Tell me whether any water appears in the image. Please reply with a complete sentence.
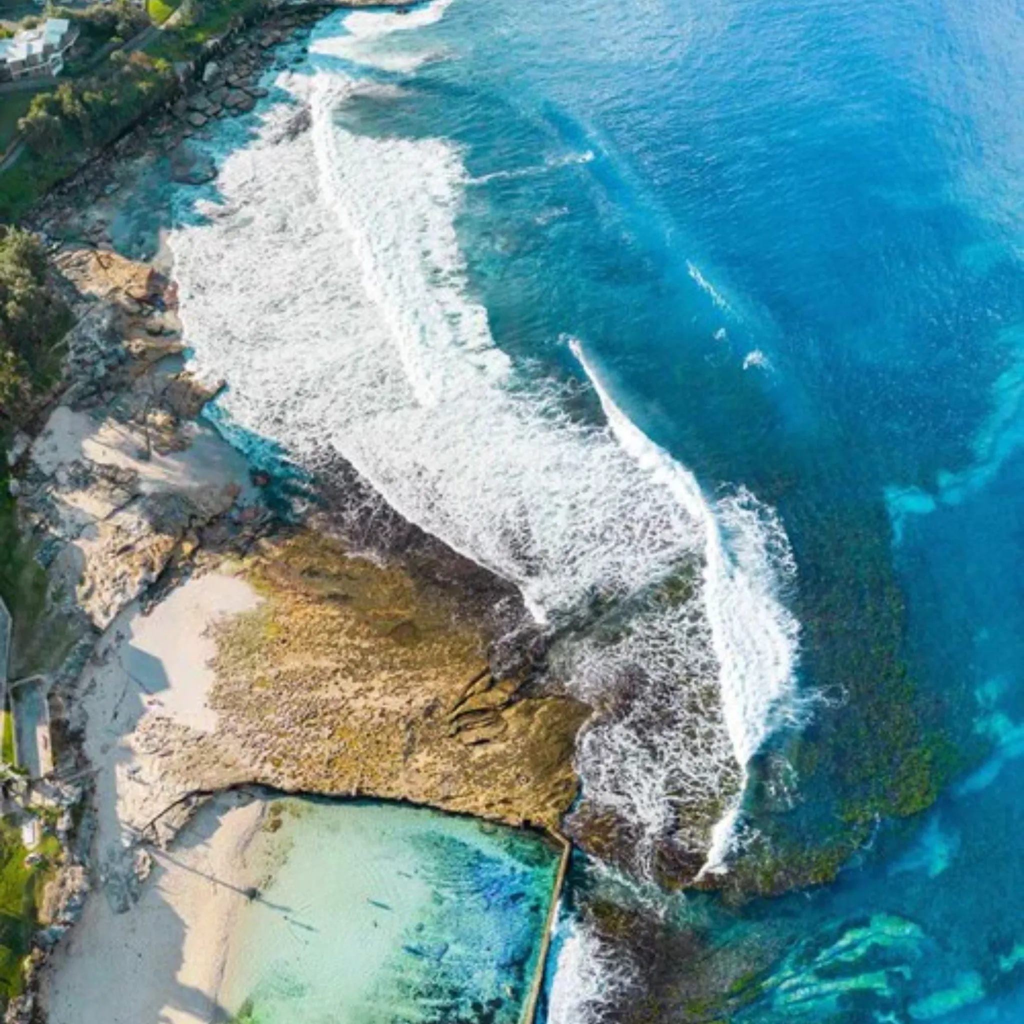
Yes, the picture does contain water.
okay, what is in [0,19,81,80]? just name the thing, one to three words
house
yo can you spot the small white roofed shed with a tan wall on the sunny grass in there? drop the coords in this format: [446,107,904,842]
[22,821,45,850]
